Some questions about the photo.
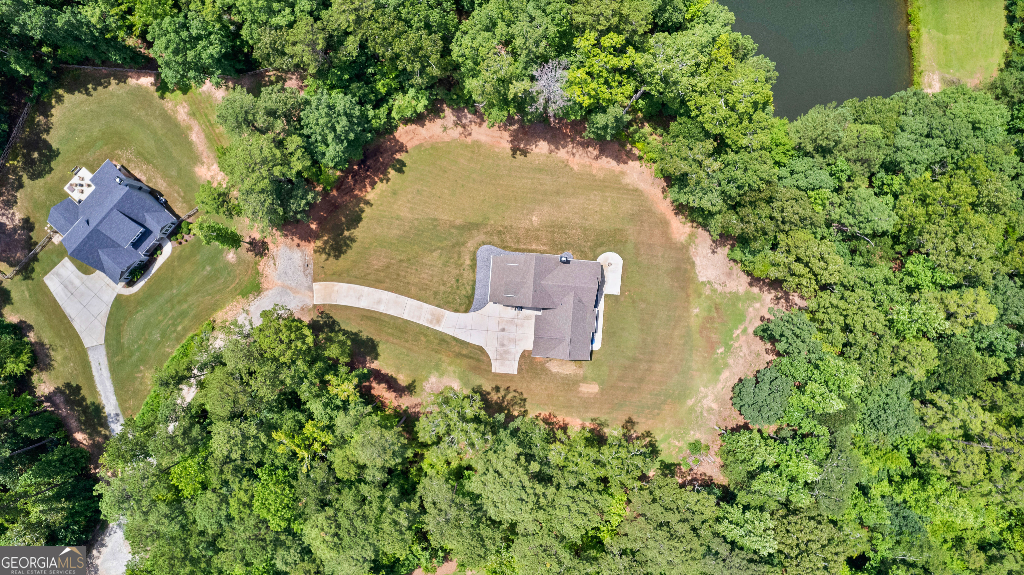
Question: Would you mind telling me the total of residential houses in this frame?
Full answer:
In total, 2 residential houses can be seen.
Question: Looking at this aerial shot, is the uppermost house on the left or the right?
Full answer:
You can find the uppermost house on the left side of the picture.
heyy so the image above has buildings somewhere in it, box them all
[48,159,181,287]
[488,252,601,361]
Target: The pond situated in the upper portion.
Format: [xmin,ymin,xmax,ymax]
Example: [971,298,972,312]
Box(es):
[718,0,915,115]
